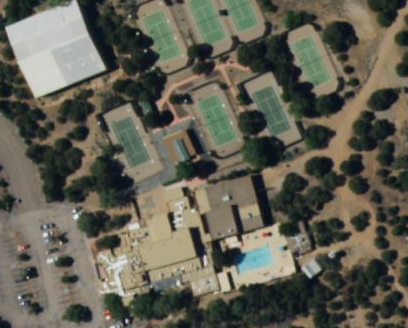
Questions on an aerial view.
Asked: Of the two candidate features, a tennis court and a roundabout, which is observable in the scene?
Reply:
tennis court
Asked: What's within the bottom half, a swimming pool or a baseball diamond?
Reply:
swimming pool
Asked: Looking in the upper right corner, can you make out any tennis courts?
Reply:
Yes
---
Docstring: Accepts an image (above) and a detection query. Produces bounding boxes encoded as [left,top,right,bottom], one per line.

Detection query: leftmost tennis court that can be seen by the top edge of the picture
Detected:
[136,0,188,72]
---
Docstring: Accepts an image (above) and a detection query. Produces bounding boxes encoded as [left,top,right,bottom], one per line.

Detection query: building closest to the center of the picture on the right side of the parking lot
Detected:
[162,130,198,163]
